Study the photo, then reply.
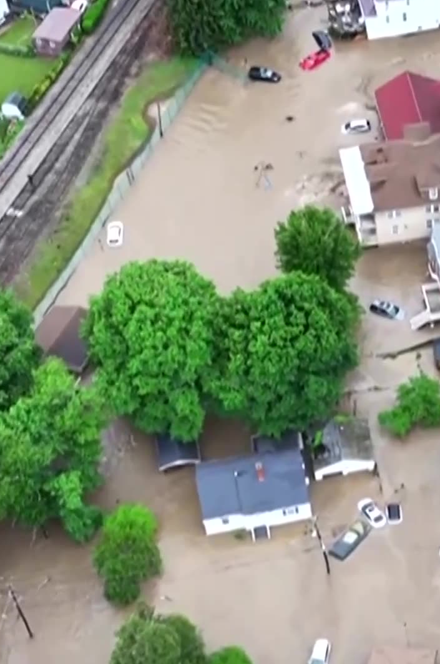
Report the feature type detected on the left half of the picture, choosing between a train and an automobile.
automobile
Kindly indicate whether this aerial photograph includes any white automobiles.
Yes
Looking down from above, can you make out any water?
Yes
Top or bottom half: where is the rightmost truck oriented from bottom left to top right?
bottom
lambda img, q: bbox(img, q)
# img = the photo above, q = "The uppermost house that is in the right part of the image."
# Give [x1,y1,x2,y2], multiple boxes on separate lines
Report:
[358,0,440,39]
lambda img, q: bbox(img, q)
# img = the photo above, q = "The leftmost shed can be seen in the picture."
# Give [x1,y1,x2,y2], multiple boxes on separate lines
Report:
[1,98,30,123]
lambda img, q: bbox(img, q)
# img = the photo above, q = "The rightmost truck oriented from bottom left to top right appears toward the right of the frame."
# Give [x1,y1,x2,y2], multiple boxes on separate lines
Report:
[326,521,373,566]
